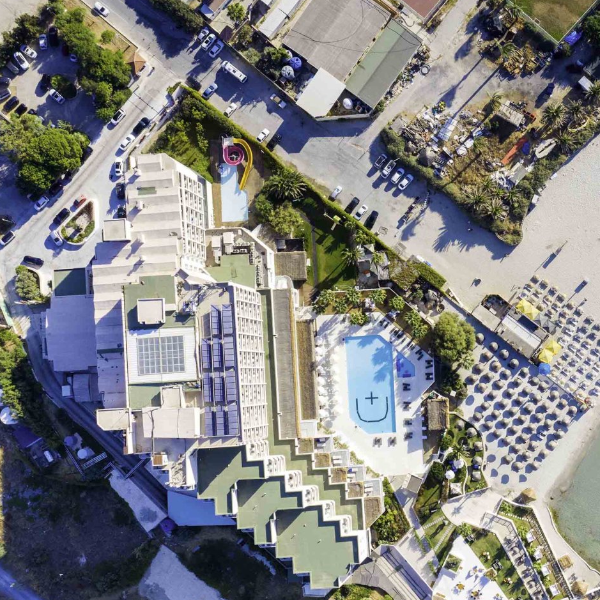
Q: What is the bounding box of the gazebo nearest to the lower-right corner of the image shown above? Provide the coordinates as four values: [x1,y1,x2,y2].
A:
[570,581,587,596]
